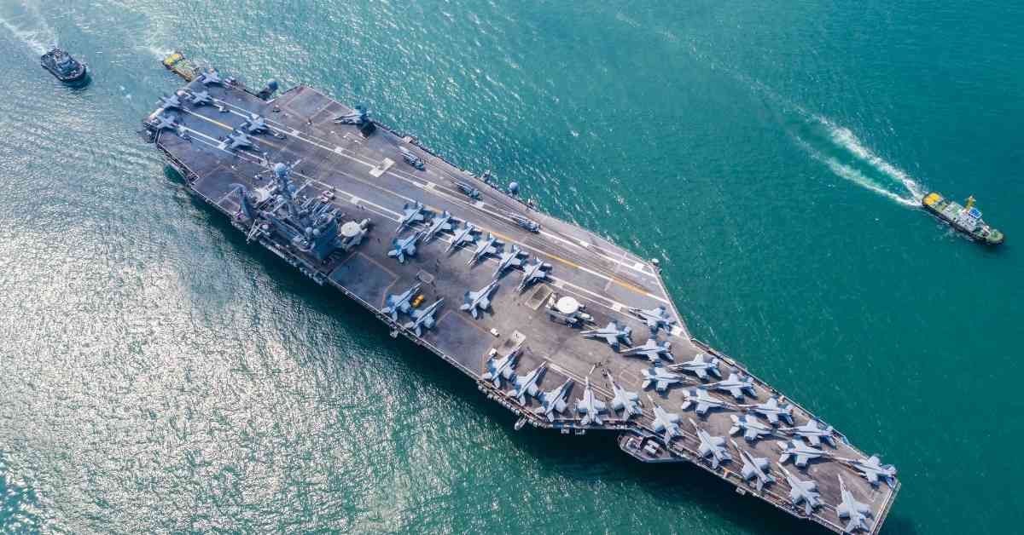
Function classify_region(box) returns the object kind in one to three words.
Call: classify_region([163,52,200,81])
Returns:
boat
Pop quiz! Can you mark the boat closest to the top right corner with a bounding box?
[921,193,1007,241]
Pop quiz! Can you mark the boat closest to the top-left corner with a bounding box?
[38,46,91,86]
